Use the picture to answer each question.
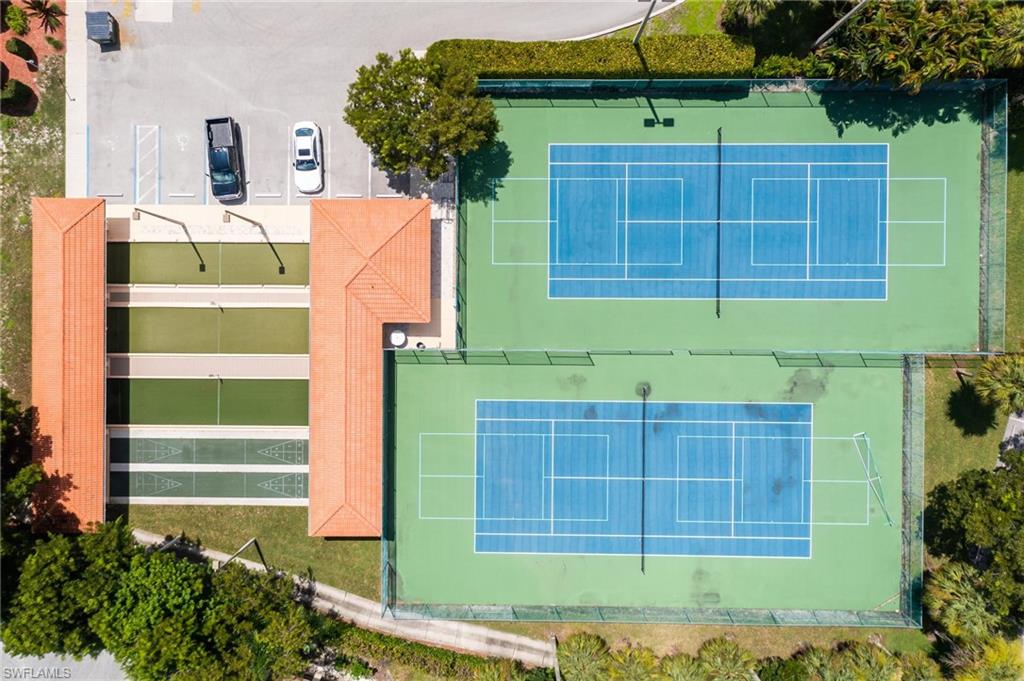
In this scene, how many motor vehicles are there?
2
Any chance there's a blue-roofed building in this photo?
No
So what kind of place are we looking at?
sports ground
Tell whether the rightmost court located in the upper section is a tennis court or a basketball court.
tennis court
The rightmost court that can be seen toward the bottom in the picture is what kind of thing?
tennis court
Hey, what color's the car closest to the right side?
white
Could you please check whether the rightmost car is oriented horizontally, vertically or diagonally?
vertically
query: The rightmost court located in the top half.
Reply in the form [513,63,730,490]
[459,95,981,350]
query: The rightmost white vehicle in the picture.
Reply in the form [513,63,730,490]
[292,121,325,194]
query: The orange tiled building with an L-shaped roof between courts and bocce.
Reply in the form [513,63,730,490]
[309,198,433,538]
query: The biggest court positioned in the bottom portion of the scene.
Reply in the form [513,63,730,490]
[388,350,904,610]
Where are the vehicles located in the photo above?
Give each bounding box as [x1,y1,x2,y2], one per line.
[204,115,245,200]
[292,121,325,194]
